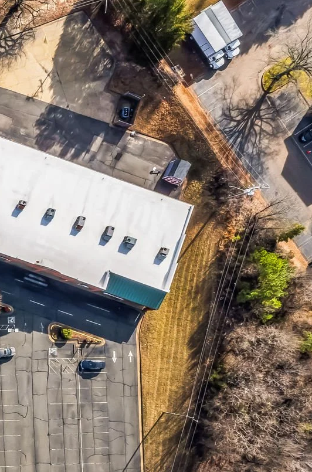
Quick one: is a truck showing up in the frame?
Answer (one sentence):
Yes, I can see a truck in this picture.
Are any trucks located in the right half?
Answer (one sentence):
Yes, the scene does show a truck in the right half.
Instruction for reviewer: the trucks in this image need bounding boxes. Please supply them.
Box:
[199,0,243,61]
[184,12,226,73]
